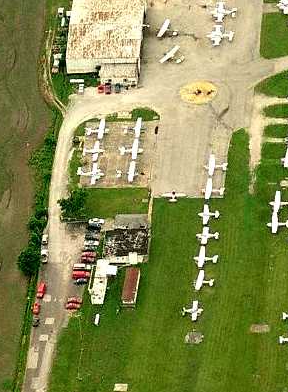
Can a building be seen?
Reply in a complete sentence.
Yes, you can see a building in this photo.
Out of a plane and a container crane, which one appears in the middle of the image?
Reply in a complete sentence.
What appears in the middle of the image is a plane.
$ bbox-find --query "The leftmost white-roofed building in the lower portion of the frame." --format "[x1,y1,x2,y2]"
[86,257,123,312]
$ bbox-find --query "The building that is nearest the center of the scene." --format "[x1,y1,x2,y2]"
[102,214,151,266]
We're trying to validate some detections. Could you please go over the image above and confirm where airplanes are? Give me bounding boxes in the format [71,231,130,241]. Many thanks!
[211,1,237,21]
[118,161,140,182]
[201,178,224,199]
[80,140,105,160]
[157,189,187,206]
[194,247,216,268]
[281,151,288,168]
[197,227,217,244]
[156,20,177,37]
[203,155,226,175]
[209,24,234,45]
[180,301,202,320]
[269,191,288,212]
[266,212,288,234]
[193,270,214,291]
[125,118,147,138]
[278,0,288,12]
[88,119,110,139]
[279,337,288,344]
[120,139,144,159]
[78,163,103,183]
[198,204,219,225]
[159,45,184,63]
